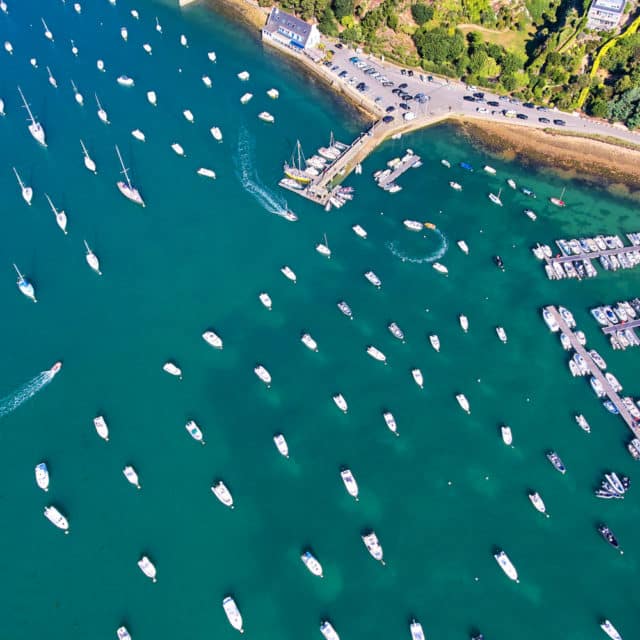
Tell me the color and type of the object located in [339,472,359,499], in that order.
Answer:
white boat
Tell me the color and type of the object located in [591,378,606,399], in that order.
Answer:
white boat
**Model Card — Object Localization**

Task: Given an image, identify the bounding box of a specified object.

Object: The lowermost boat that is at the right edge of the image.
[598,617,621,640]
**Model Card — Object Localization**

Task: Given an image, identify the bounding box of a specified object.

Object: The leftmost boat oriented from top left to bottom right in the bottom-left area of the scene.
[46,509,70,533]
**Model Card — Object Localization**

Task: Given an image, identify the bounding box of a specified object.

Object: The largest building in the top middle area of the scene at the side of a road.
[259,6,327,52]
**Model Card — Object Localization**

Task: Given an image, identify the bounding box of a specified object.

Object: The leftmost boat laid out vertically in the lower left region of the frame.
[34,464,49,492]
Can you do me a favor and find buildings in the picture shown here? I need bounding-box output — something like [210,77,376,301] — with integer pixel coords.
[259,6,327,52]
[587,0,632,31]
